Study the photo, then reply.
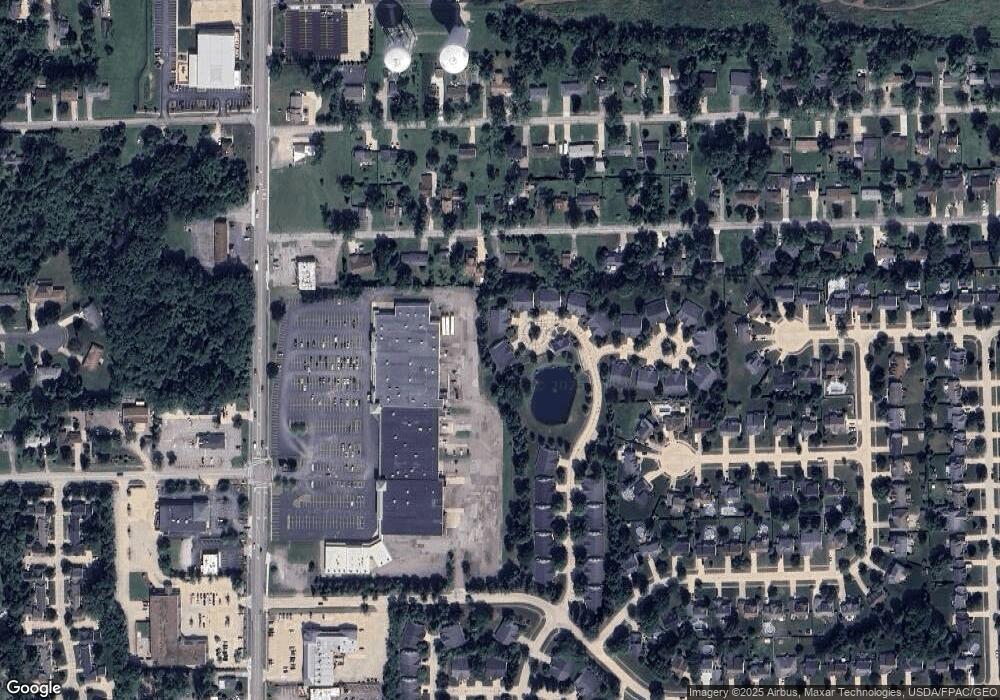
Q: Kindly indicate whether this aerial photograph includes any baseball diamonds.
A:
No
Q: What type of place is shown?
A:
residential area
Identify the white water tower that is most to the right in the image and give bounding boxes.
[440,23,471,70]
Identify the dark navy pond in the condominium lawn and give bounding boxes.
[531,366,576,425]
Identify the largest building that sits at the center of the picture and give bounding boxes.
[371,299,444,535]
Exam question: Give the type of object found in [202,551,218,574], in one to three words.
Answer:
building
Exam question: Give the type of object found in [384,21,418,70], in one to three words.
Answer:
water tower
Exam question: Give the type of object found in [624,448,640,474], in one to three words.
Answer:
house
